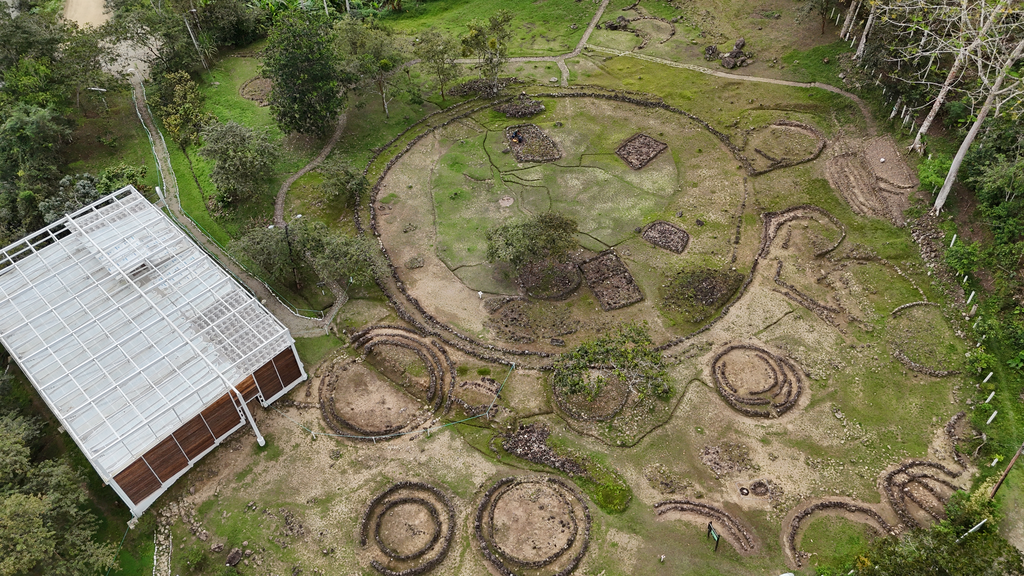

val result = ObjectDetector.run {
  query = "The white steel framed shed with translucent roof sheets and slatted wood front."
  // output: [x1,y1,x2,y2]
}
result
[0,187,309,522]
